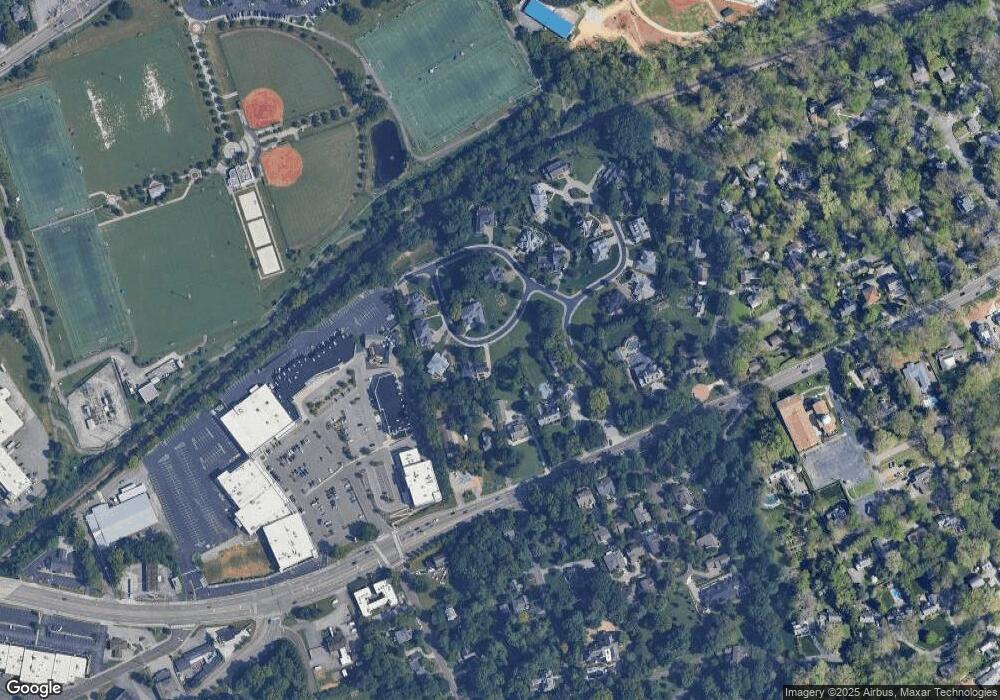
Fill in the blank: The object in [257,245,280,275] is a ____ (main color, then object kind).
white sports court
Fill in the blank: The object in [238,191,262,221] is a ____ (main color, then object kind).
white sports court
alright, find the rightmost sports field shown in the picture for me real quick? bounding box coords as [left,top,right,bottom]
[356,0,540,156]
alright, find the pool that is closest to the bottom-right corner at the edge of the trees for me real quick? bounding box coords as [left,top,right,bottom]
[891,585,905,607]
